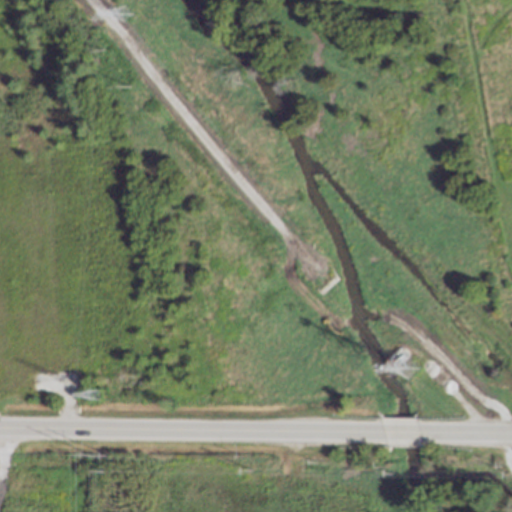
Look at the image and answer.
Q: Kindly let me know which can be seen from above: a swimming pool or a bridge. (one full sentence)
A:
There is a bridge in the scene.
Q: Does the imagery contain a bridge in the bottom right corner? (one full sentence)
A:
Yes, a bridge appears in the bottom right corner.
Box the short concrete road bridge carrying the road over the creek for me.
[380,412,426,454]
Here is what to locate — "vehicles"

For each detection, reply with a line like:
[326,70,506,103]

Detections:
[322,318,336,329]
[75,430,90,438]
